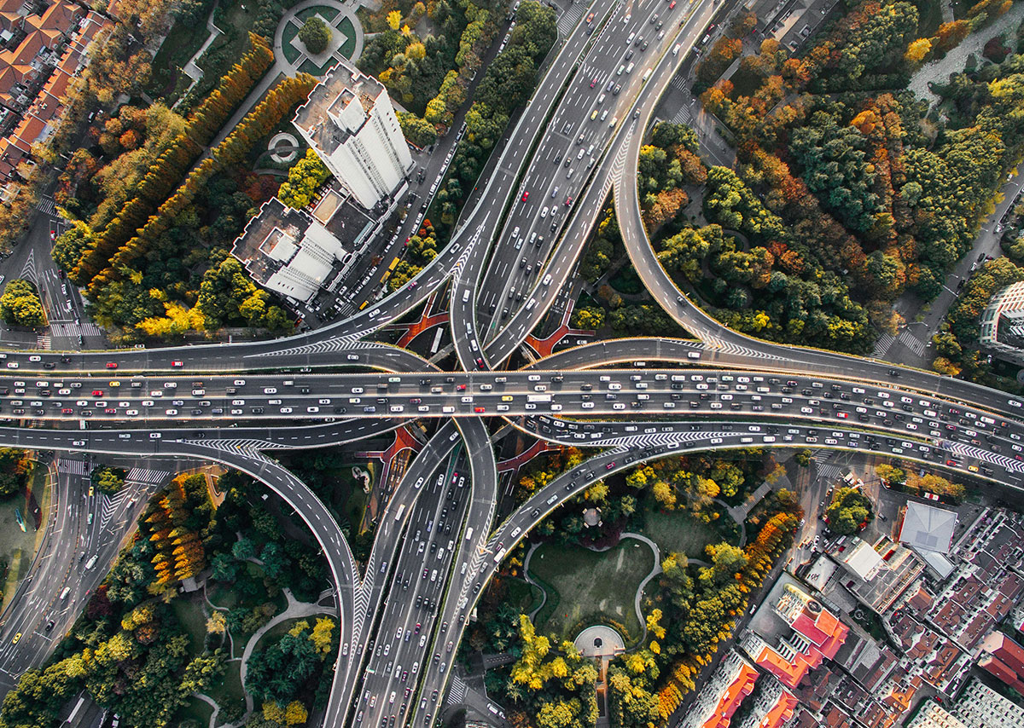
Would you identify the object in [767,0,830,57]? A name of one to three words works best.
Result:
building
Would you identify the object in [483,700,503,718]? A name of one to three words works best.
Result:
vehicle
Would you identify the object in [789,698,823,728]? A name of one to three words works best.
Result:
house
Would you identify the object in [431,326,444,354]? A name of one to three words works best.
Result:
vehicle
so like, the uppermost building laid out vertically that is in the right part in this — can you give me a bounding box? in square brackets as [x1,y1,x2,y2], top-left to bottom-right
[983,281,1024,376]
